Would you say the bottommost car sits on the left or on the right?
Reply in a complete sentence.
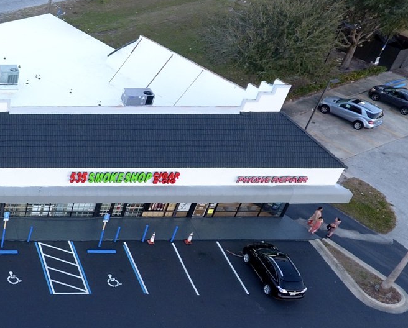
It is on the right.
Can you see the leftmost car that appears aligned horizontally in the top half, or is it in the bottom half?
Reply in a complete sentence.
The leftmost car that appears aligned horizontally is in the top half of the image.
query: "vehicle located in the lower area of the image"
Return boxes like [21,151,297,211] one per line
[246,243,311,301]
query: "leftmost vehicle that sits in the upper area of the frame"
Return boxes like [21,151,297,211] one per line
[318,94,386,129]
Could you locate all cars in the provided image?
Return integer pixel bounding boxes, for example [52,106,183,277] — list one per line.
[246,243,311,301]
[368,82,408,115]
[318,94,386,129]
